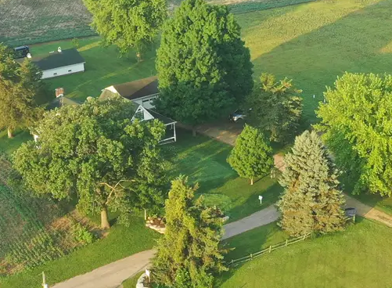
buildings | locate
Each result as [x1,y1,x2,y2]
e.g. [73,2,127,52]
[99,72,177,142]
[9,45,86,80]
